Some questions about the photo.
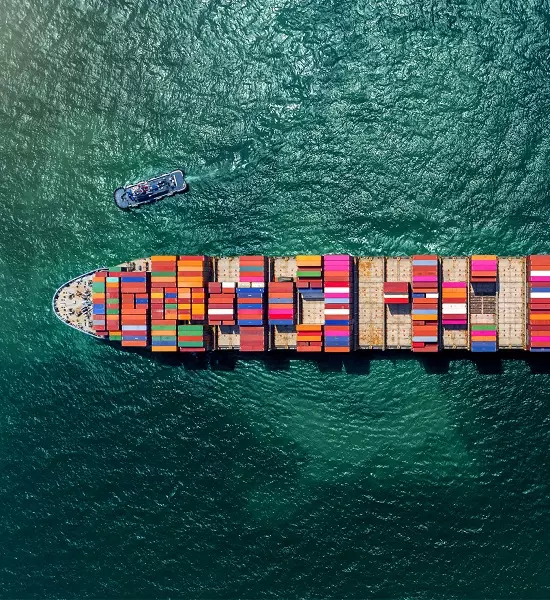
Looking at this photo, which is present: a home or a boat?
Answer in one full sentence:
There is a boat in the scene.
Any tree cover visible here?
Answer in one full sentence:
No, the picture contains no tree cover.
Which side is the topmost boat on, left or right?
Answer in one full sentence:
The topmost boat appears in the left half of the scene.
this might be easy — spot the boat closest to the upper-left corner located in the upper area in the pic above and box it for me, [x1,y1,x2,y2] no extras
[115,172,188,207]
